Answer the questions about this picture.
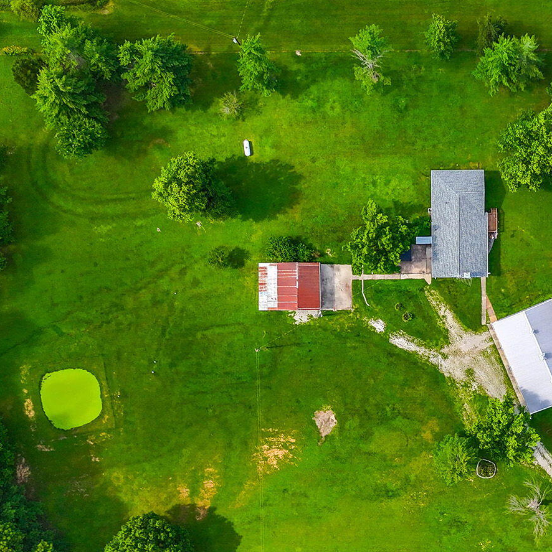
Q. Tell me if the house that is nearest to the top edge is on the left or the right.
right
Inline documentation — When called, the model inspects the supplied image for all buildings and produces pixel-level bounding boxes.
[259,263,321,310]
[415,169,491,278]
[491,299,552,413]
